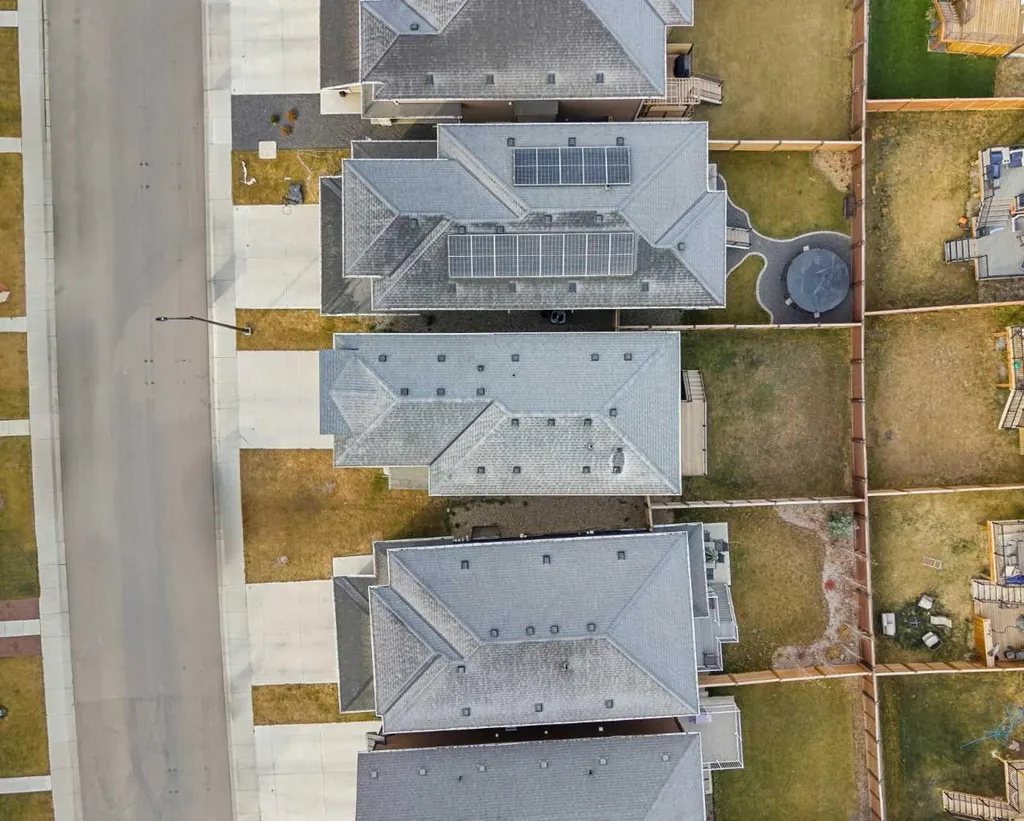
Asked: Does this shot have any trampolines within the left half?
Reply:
No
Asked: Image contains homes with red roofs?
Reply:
No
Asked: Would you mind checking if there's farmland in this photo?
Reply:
No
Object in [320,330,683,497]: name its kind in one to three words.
house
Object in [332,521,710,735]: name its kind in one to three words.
house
